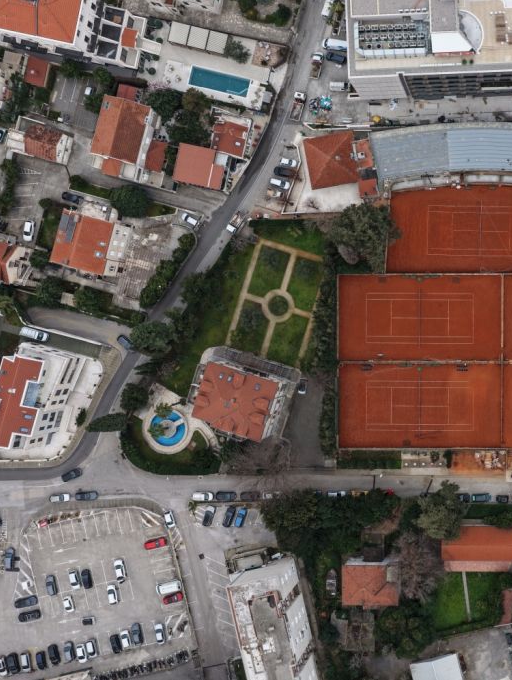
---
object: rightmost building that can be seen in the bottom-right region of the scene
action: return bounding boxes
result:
[441,523,512,573]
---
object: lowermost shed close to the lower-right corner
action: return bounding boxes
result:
[410,646,465,680]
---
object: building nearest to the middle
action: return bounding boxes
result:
[186,346,299,442]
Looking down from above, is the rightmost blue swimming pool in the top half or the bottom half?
top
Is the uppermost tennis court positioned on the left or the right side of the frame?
right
